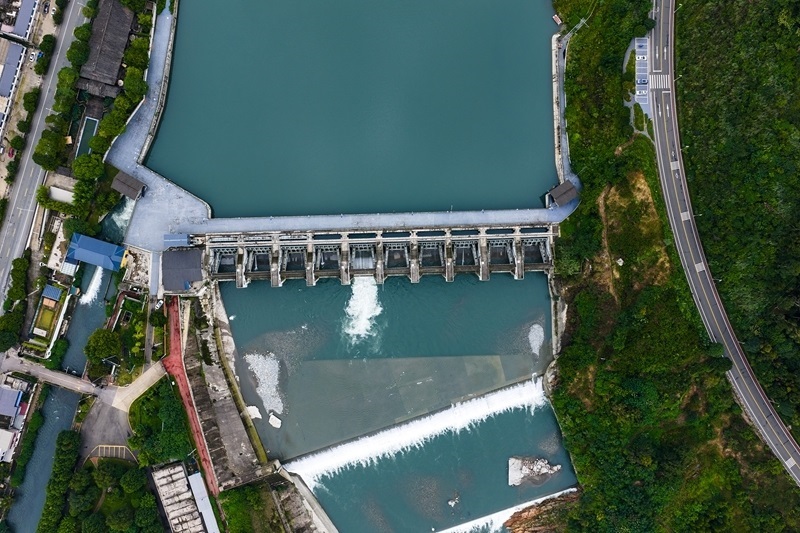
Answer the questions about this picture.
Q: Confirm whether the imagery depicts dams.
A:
Yes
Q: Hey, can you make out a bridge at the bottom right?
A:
No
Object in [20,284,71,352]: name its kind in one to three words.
house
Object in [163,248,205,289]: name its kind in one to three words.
building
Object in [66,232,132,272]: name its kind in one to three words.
building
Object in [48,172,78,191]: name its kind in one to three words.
house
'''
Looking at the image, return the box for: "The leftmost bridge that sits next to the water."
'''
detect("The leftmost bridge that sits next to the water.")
[15,356,93,395]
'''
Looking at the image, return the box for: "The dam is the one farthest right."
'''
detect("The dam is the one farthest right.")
[434,488,575,533]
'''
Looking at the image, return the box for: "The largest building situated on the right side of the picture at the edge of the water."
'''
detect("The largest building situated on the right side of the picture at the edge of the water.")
[548,180,579,206]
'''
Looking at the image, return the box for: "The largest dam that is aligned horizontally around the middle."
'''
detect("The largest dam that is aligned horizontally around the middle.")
[191,208,562,288]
